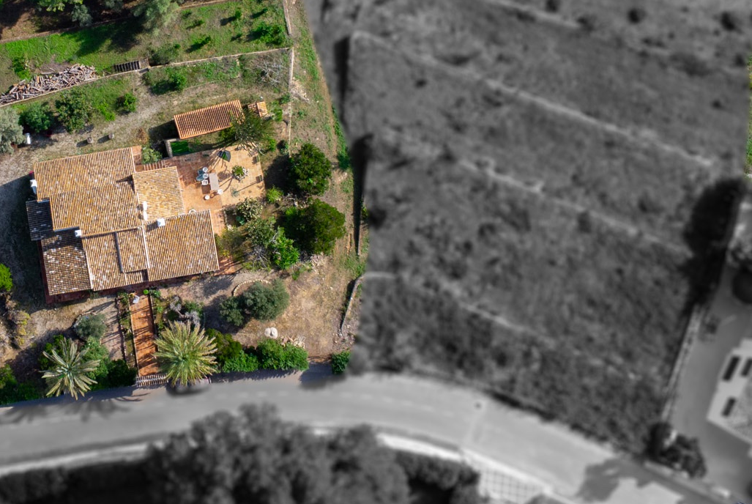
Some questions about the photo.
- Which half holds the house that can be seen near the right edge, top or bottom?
bottom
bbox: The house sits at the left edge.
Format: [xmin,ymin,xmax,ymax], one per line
[25,147,220,295]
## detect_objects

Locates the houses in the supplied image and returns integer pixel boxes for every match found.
[25,147,220,295]
[689,324,752,441]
